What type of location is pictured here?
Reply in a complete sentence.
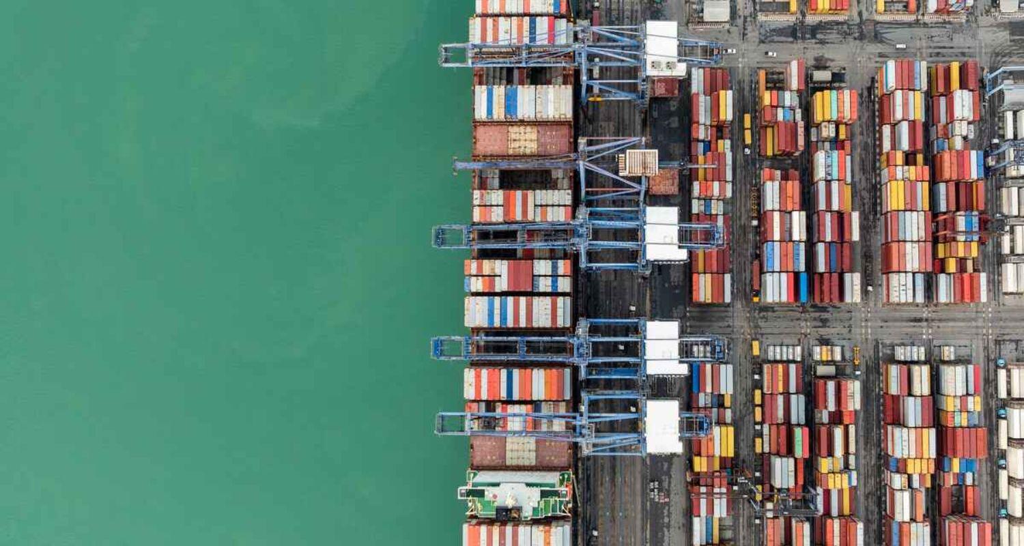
What you see here is a port.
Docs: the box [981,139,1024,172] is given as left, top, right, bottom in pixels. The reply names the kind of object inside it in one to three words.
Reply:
container crane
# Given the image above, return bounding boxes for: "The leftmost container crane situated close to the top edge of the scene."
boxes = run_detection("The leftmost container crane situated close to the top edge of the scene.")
[438,22,724,122]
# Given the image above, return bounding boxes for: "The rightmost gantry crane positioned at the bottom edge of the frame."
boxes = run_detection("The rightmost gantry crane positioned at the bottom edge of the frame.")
[748,475,819,520]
